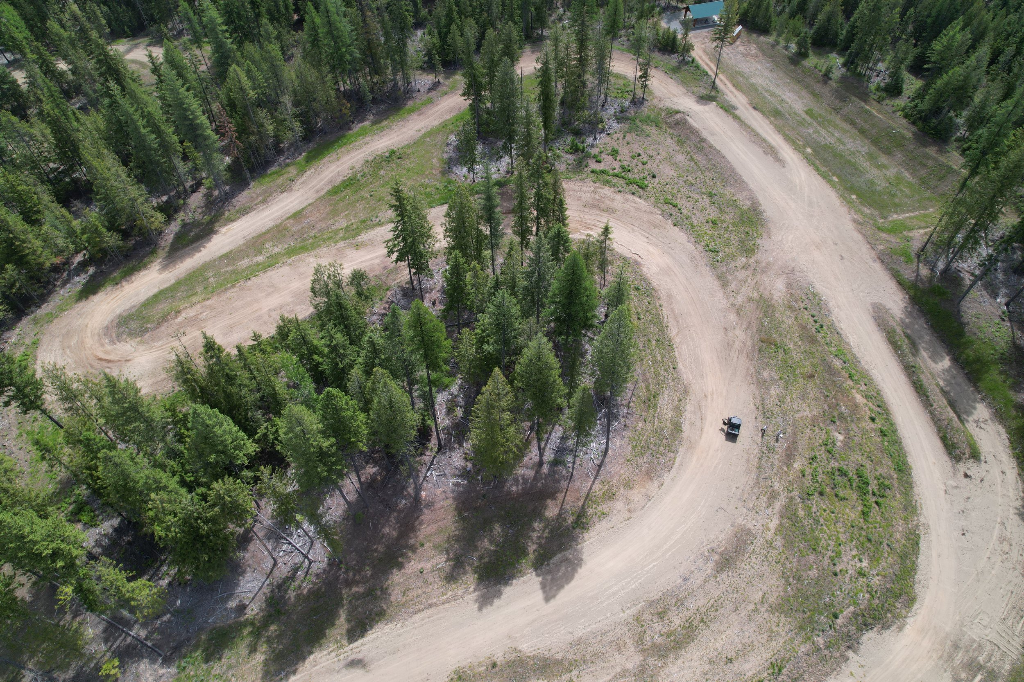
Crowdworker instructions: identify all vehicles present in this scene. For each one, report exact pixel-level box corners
[722,415,741,435]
